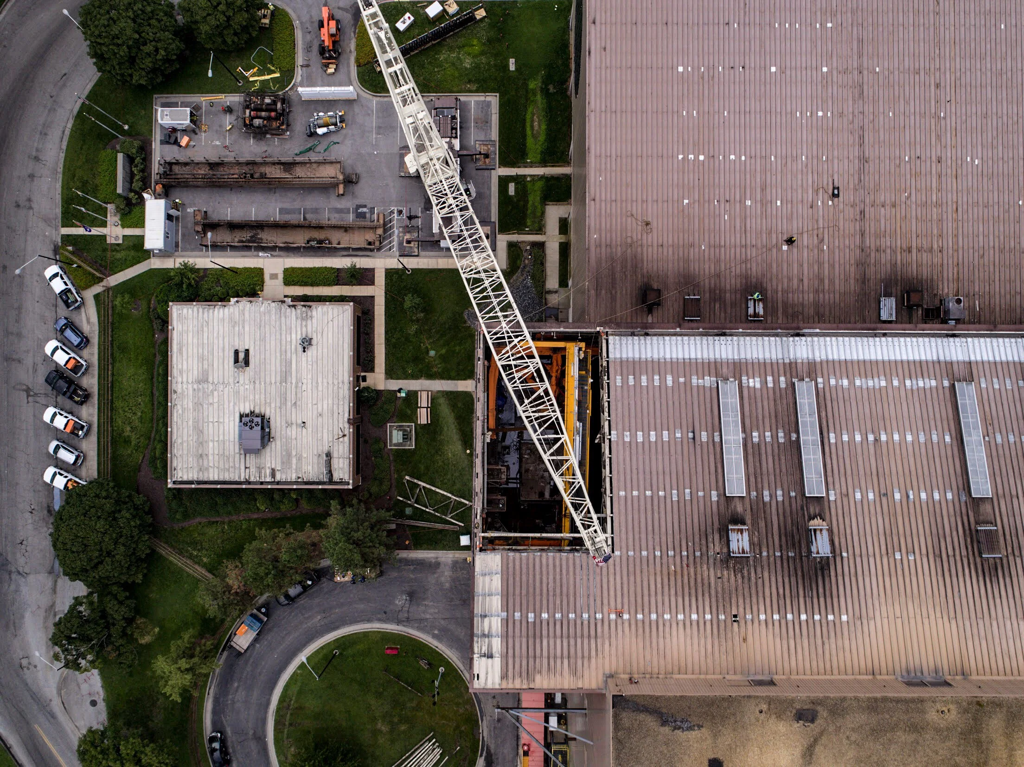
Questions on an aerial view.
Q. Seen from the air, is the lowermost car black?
Yes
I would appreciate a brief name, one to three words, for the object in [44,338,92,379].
truck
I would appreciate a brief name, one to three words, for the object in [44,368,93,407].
truck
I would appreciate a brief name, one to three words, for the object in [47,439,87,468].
car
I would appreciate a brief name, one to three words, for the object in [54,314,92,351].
car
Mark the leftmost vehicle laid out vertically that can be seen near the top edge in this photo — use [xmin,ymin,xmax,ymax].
[317,6,342,73]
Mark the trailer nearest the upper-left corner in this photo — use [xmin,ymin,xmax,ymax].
[156,107,208,130]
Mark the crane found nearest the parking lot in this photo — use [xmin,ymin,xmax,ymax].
[356,0,612,563]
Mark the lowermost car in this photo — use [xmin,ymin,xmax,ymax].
[206,729,232,767]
